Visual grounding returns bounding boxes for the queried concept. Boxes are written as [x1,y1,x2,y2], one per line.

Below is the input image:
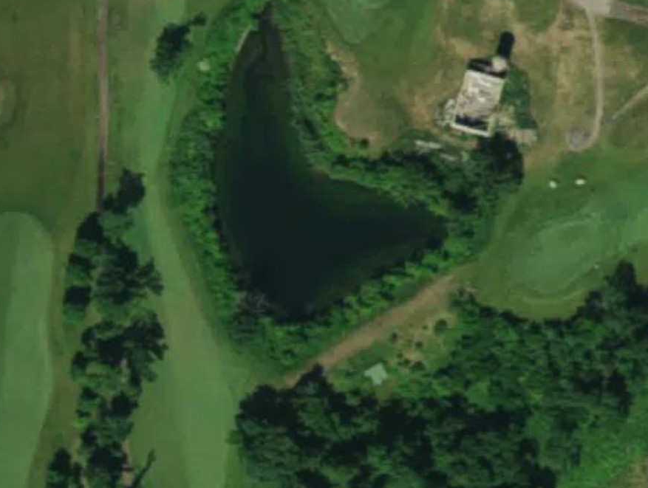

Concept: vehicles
[550,180,557,190]
[575,180,586,186]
